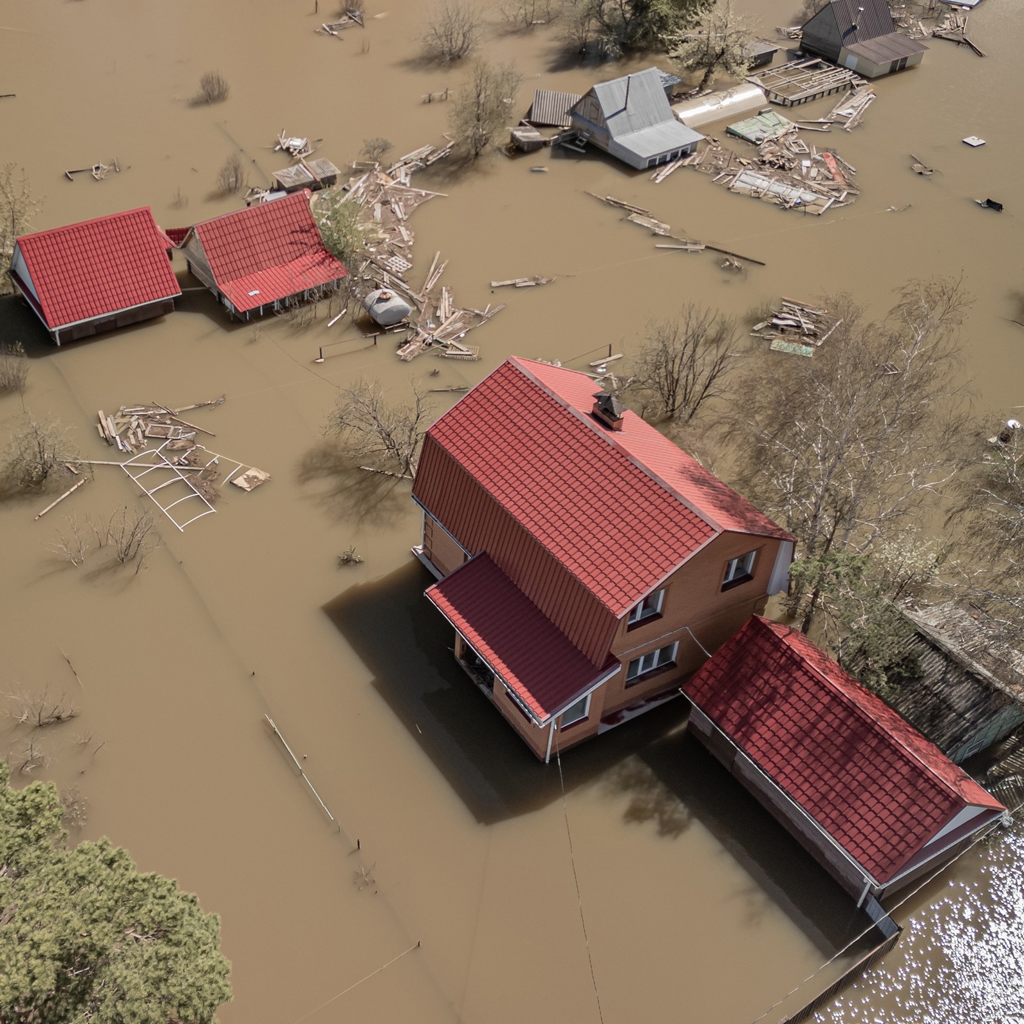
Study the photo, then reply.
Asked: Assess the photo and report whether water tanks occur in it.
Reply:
Yes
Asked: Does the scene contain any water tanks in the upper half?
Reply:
Yes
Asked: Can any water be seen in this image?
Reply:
Yes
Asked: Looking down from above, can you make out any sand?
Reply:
No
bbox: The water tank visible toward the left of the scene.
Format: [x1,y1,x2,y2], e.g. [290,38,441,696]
[359,292,418,341]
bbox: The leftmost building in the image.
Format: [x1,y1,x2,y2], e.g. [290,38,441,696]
[8,205,185,345]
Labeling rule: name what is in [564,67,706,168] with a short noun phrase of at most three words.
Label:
house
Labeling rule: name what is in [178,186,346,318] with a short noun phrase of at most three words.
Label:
house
